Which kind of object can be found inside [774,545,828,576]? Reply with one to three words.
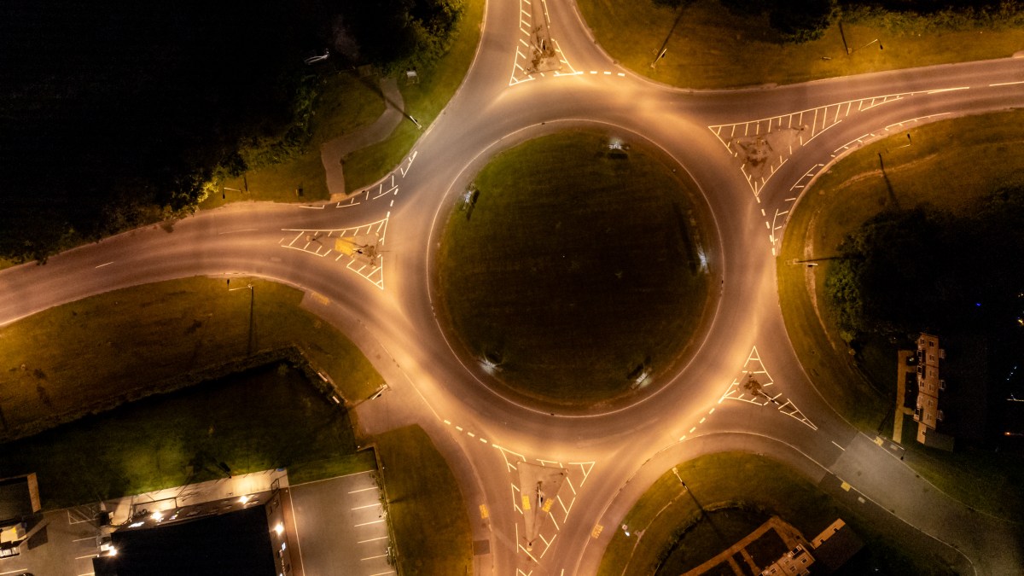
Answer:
house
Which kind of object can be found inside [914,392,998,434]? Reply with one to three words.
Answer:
house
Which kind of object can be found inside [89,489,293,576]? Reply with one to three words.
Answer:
building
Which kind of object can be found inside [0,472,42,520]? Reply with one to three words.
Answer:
building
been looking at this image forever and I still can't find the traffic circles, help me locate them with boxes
[379,72,771,464]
